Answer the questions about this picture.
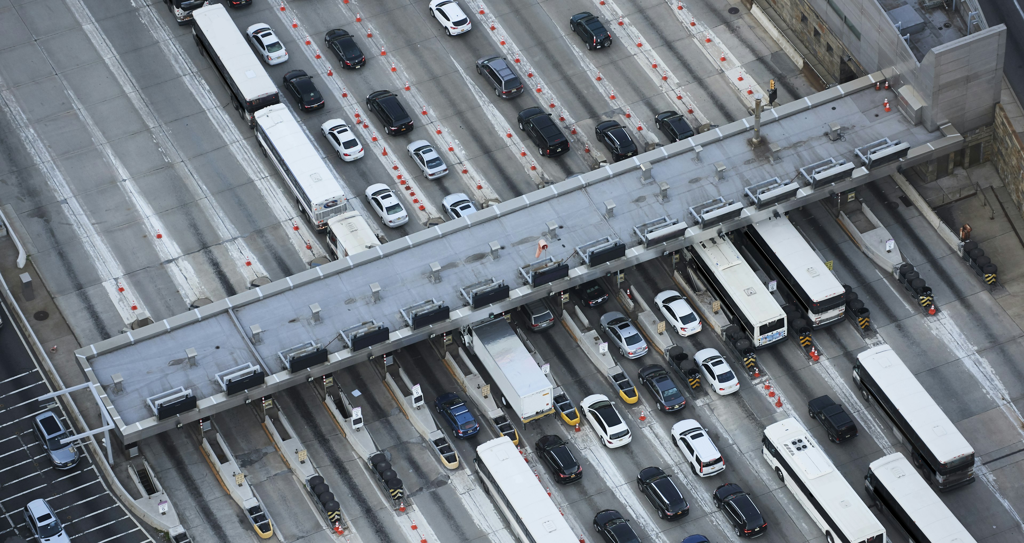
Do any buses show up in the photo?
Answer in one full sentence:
Yes, you can see a bus in this photo.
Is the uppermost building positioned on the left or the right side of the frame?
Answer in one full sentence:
The uppermost building sits on the right side.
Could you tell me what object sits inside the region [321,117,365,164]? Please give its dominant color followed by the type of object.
white car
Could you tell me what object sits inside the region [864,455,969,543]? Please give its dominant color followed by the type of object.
white bus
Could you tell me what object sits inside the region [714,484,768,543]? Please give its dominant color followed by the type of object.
black car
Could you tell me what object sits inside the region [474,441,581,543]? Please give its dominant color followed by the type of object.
white bus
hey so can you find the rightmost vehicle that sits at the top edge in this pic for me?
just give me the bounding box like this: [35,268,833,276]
[571,11,613,54]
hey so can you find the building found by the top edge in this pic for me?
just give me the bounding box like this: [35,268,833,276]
[766,0,1009,184]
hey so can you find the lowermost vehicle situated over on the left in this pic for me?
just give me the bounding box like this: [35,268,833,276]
[23,500,71,543]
